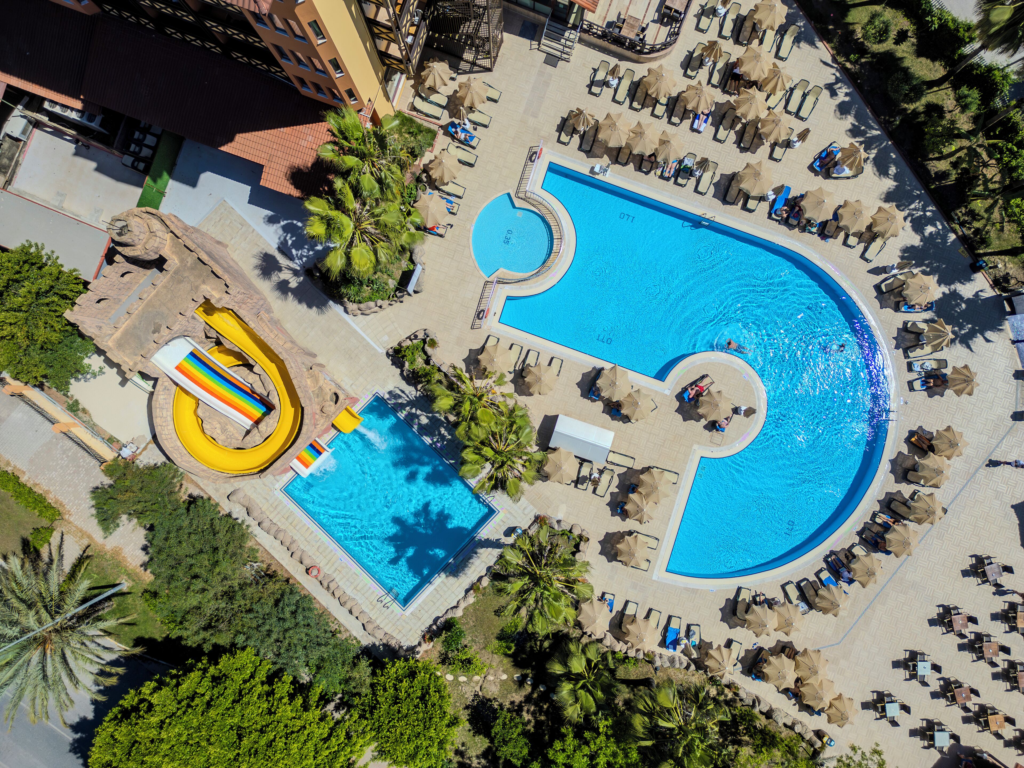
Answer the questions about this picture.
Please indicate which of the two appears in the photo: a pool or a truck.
pool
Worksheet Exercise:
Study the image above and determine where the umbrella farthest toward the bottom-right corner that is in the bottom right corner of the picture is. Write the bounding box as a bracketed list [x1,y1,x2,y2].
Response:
[824,696,861,735]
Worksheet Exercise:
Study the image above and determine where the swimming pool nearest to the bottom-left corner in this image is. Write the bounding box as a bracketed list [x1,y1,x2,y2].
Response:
[283,395,497,607]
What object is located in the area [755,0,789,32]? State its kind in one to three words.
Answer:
umbrella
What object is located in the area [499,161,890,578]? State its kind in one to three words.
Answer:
swimming pool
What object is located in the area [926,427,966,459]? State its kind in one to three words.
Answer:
umbrella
